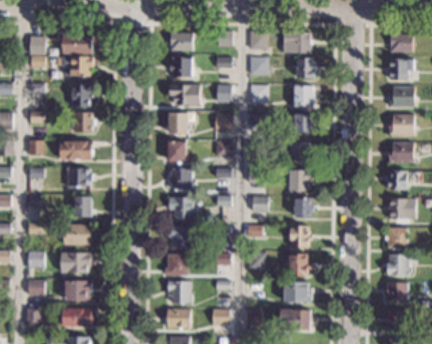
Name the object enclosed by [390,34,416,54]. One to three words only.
house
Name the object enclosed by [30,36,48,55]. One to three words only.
building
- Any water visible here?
No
